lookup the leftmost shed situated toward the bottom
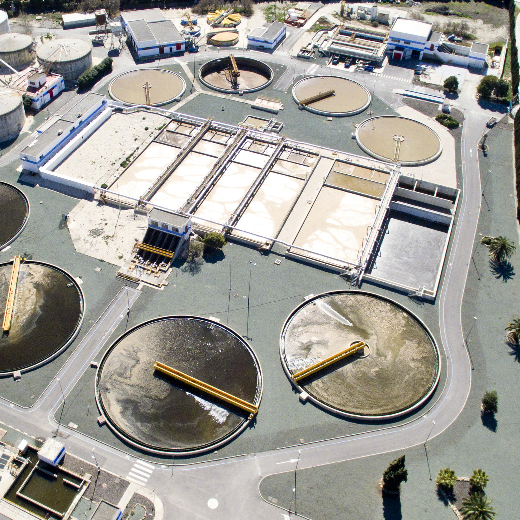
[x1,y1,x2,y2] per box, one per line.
[38,437,68,469]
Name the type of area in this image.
industrial area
